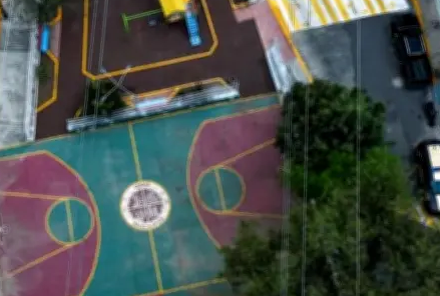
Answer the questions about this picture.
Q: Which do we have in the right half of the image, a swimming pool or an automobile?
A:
automobile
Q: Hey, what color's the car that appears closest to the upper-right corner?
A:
black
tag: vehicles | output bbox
[423,101,440,126]
[412,141,440,212]
[389,15,432,87]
